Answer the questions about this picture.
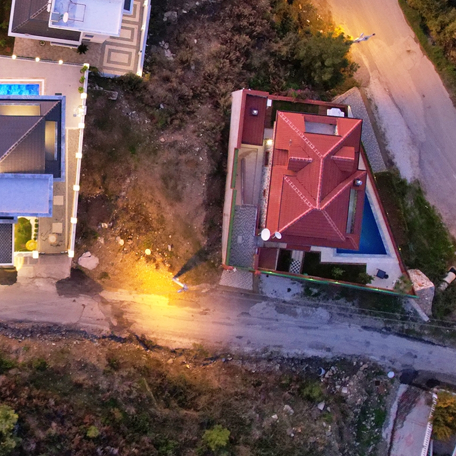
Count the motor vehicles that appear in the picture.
0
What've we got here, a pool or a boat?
pool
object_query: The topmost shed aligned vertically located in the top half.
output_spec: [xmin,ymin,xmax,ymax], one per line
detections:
[241,95,267,146]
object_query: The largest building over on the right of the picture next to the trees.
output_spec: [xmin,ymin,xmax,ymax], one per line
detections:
[256,110,368,250]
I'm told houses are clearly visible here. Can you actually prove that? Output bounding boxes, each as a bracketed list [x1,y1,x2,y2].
[0,96,65,223]
[256,110,368,250]
[7,0,134,50]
